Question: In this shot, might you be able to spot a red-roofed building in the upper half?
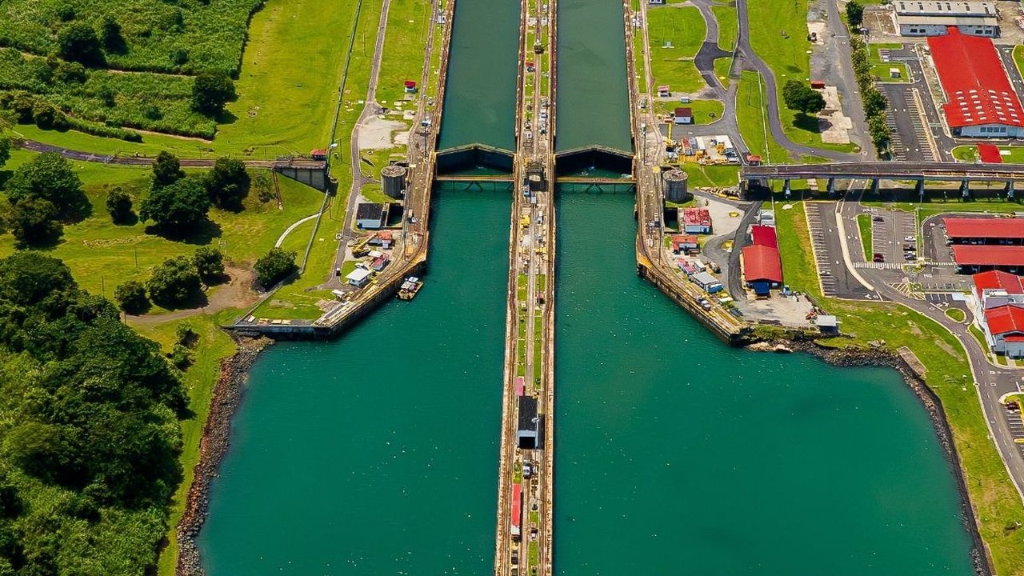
Yes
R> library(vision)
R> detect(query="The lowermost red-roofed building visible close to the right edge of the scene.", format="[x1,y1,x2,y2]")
[965,270,1024,357]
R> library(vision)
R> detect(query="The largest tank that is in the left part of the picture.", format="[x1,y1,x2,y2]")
[378,163,409,200]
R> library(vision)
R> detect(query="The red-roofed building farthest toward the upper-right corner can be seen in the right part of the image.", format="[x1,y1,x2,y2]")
[925,29,1024,137]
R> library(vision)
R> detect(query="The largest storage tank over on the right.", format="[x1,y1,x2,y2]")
[661,167,692,204]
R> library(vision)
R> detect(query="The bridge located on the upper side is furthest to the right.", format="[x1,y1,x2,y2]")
[735,159,1024,196]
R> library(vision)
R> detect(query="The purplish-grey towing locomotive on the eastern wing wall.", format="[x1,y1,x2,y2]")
[694,293,715,310]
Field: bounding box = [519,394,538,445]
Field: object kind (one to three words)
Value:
shed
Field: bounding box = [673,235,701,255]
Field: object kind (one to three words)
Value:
house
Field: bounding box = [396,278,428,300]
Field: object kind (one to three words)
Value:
ship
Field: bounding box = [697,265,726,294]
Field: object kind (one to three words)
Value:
building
